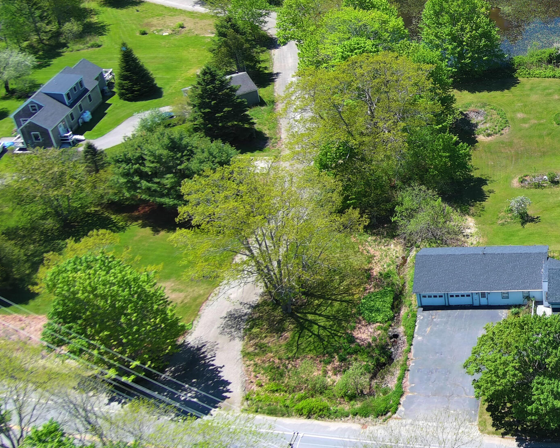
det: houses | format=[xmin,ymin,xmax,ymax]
[7,55,119,148]
[413,245,560,332]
